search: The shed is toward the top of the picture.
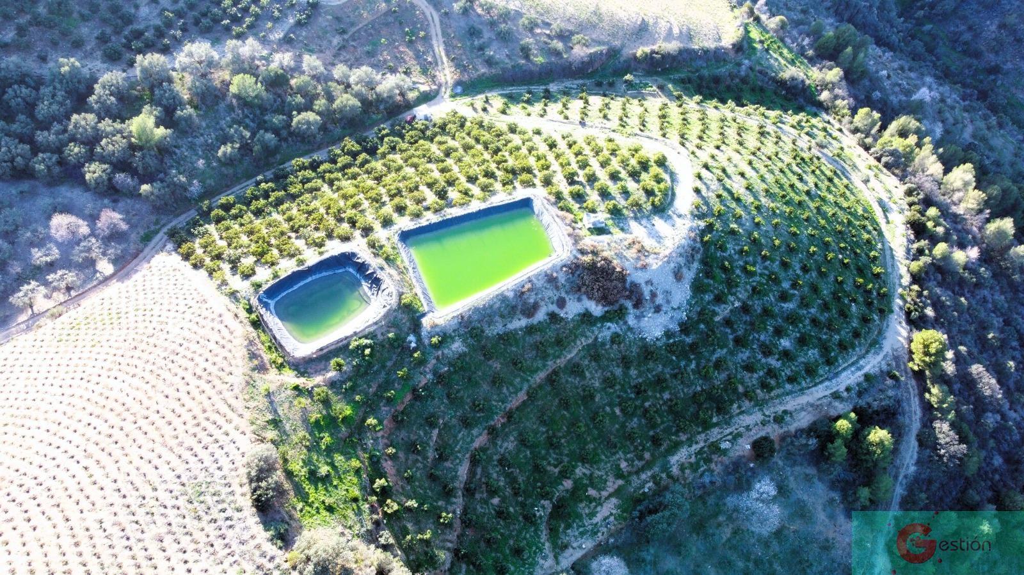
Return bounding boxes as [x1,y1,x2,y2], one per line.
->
[584,214,607,231]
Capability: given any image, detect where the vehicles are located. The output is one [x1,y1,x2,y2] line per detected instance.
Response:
[402,113,415,123]
[414,109,433,120]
